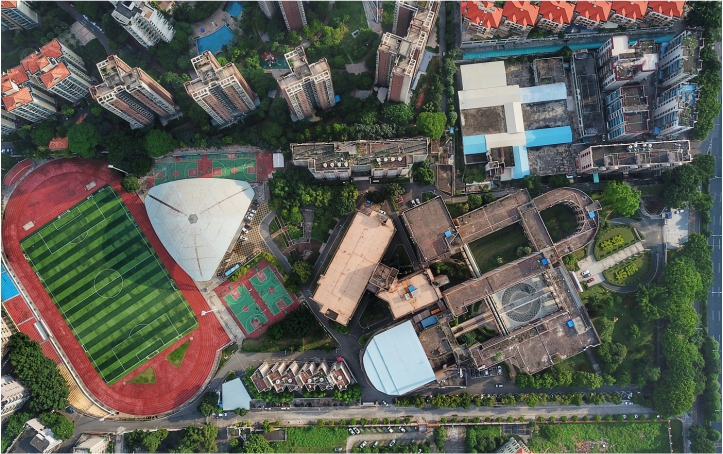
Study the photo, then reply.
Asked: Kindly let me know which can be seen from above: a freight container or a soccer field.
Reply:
soccer field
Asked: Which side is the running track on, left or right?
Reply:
left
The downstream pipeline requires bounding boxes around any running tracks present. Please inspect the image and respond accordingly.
[2,157,230,415]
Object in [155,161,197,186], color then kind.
green basketball court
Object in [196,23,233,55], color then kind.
blue swimming pool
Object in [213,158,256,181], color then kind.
green basketball court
